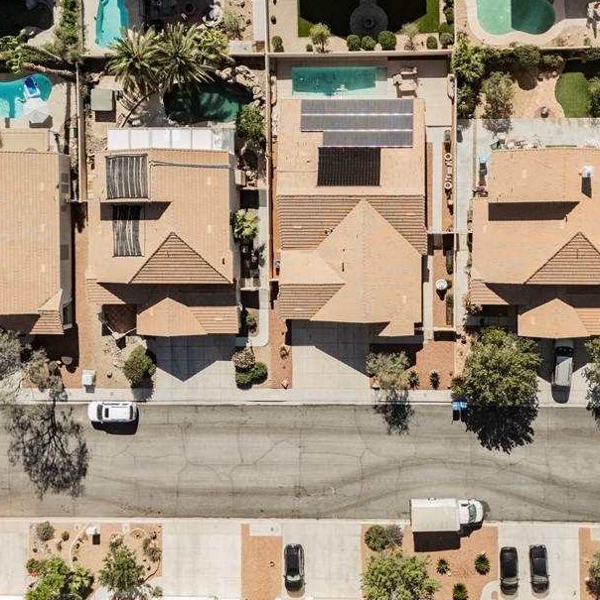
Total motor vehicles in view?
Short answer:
6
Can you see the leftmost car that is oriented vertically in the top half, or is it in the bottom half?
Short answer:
bottom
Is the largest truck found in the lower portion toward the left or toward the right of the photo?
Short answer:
right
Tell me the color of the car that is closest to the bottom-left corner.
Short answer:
white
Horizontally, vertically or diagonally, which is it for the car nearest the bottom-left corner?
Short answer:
horizontally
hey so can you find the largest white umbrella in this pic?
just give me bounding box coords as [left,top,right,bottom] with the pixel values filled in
[24,98,49,122]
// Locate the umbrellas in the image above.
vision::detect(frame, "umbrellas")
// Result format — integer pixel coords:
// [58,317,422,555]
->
[393,75,403,86]
[24,98,49,122]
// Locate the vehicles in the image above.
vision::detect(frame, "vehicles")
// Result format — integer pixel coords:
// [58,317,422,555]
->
[497,544,520,593]
[527,543,551,592]
[89,401,139,424]
[551,338,575,386]
[409,498,482,531]
[283,542,305,589]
